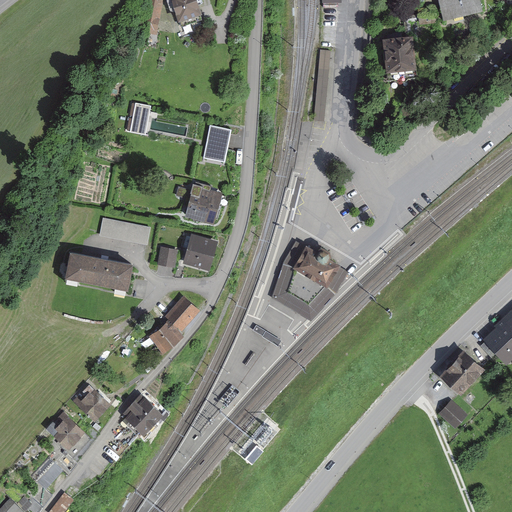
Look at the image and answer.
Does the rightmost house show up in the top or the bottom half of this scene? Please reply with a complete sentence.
It is in the bottom half that the rightmost house appears.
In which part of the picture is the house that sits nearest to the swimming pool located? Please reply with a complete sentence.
You can find the house that sits nearest to the swimming pool in the top left area of the picture.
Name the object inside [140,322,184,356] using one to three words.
house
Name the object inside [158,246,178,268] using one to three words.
building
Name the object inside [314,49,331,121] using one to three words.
shed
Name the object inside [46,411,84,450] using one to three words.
house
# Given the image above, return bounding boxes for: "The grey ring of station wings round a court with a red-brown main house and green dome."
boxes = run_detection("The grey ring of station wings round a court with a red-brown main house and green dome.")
[273,241,348,320]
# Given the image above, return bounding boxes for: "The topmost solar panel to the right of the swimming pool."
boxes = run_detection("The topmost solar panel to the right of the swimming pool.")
[205,126,230,160]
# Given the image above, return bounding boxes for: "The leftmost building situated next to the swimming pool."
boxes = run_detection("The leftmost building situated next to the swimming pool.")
[125,102,151,135]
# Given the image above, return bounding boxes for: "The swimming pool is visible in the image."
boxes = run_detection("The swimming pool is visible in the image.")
[150,118,187,136]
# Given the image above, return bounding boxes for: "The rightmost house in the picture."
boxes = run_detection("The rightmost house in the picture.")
[482,313,512,365]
